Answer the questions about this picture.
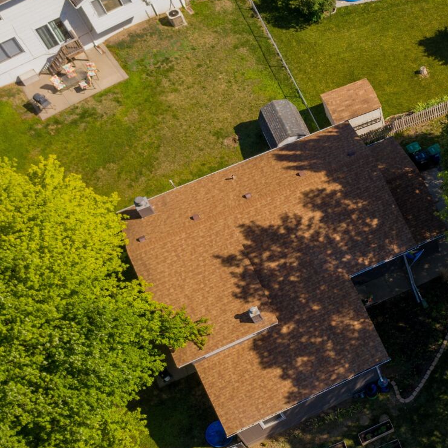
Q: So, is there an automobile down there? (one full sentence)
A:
No, the frame has no automobile in it.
